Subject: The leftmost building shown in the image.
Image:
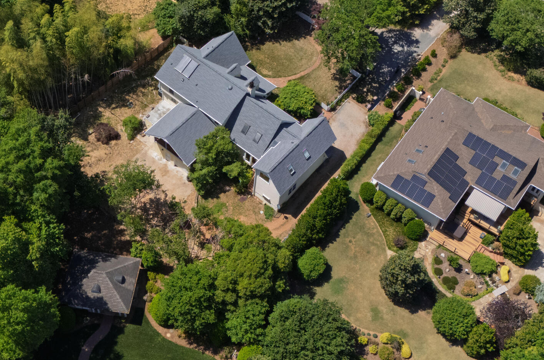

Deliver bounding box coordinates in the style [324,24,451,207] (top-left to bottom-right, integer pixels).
[60,249,142,322]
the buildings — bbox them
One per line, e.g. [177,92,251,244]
[60,249,142,322]
[143,32,337,209]
[371,87,544,230]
